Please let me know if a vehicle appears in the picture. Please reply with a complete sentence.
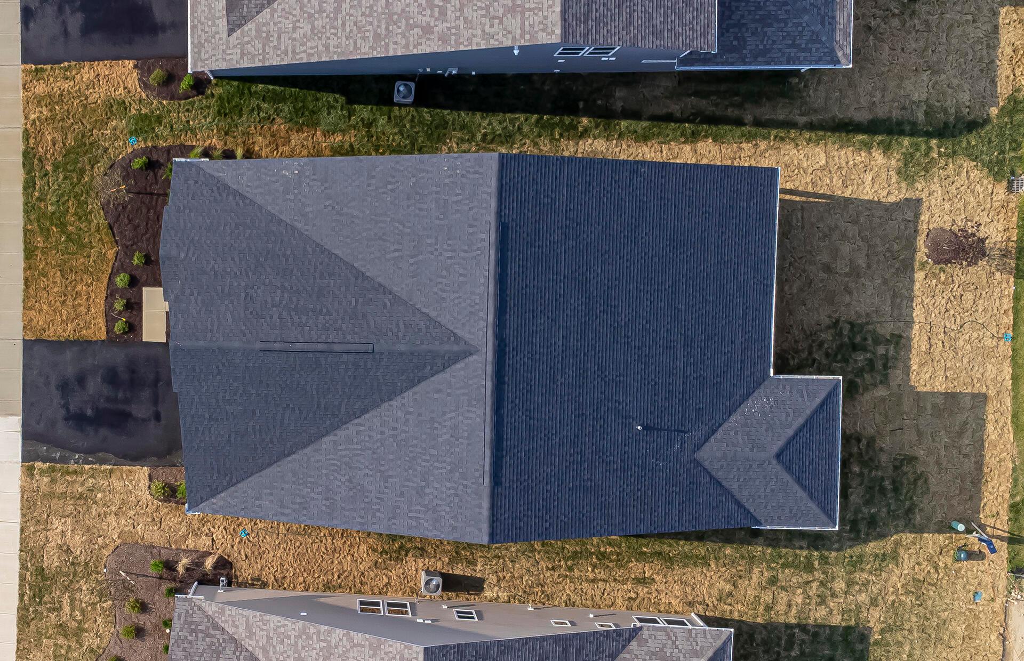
No, no vehicle is visible in the scene.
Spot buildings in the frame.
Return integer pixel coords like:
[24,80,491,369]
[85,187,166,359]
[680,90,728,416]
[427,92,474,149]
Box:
[186,0,854,86]
[160,153,843,544]
[168,579,735,661]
